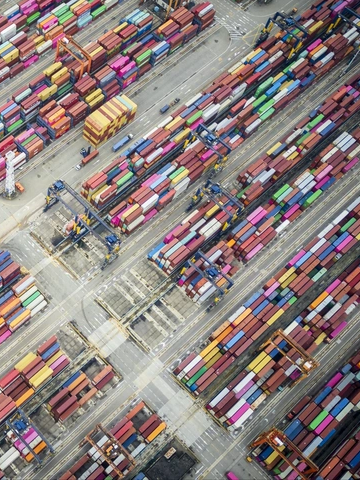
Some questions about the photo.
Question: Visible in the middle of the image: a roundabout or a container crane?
container crane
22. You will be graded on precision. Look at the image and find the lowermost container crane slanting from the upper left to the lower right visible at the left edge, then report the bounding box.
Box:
[2,408,56,472]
